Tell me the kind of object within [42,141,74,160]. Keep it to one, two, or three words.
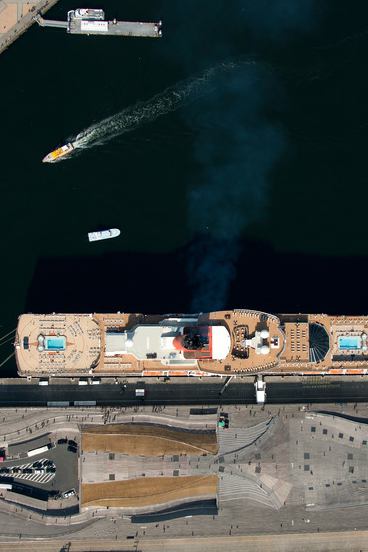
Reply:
boat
